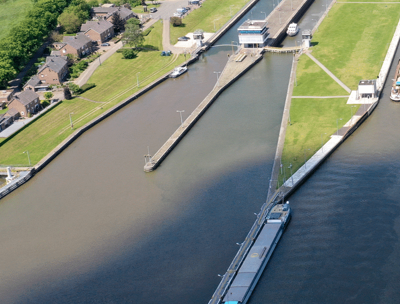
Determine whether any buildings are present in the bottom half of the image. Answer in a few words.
No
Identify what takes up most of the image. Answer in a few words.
water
